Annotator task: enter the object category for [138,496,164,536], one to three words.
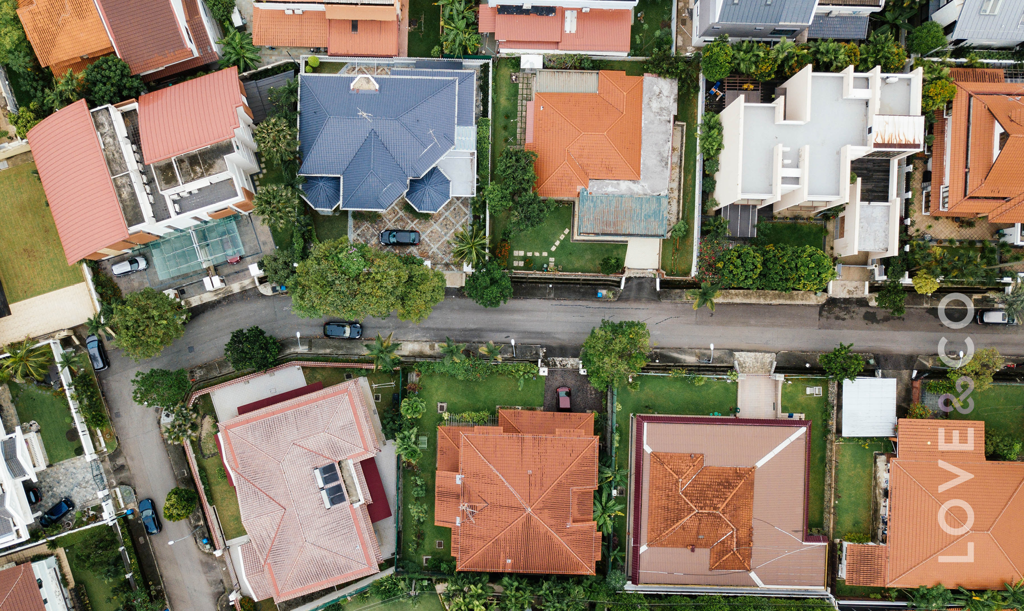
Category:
car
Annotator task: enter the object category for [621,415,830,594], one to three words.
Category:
house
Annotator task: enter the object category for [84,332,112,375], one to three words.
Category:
car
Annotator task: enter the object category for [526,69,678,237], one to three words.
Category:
house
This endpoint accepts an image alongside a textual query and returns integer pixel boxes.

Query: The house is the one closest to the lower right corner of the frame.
[832,418,1024,590]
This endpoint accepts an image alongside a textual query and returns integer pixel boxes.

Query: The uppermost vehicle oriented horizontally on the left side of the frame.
[380,227,421,247]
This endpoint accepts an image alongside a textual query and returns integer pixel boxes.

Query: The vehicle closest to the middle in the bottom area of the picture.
[554,382,573,412]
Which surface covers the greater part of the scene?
buildings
